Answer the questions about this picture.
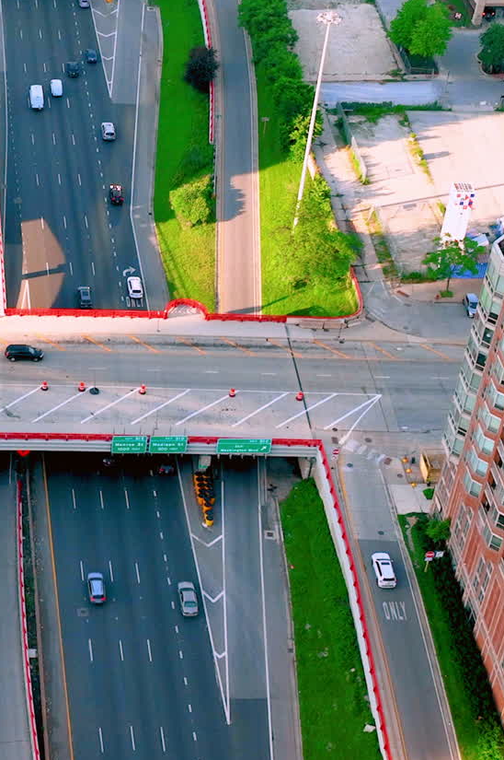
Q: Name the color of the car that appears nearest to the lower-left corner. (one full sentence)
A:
From above, the car that appears nearest to the lower-left corner appears blue.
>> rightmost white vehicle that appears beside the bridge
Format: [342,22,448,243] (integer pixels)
[127,273,145,298]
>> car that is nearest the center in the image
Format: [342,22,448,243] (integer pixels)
[155,453,176,482]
